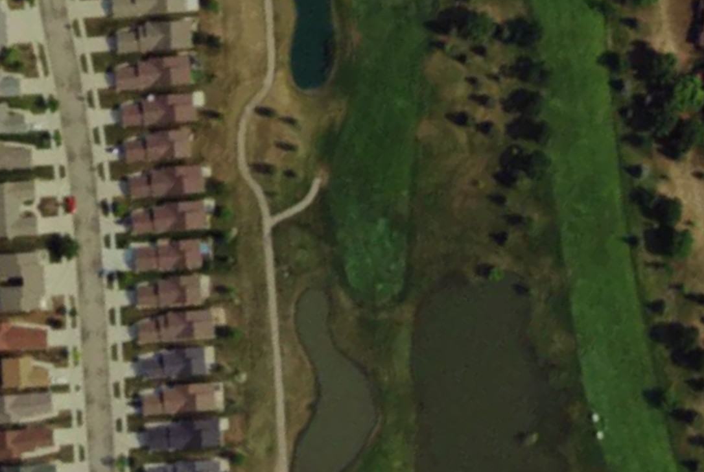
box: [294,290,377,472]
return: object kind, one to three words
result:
pond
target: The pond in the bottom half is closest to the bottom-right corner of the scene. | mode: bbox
[412,279,569,472]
